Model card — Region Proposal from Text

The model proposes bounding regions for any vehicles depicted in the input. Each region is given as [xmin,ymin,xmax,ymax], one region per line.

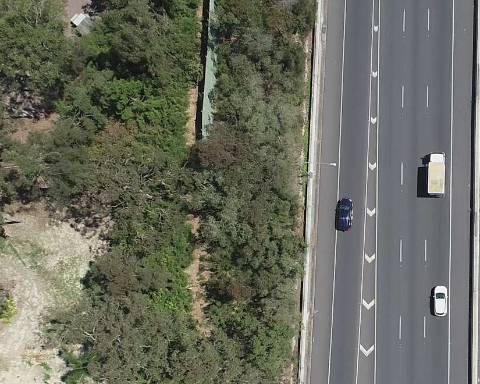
[336,197,352,230]
[427,152,446,196]
[432,285,447,316]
